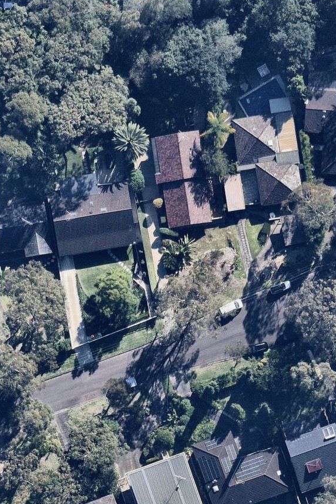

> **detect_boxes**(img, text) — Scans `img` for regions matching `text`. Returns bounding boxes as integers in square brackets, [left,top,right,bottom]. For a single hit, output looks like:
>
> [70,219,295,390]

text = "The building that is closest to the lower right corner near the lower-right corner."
[286,423,336,493]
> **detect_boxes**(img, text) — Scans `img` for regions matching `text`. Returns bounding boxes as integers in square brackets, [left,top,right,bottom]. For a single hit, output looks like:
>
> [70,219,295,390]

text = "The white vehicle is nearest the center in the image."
[217,301,243,315]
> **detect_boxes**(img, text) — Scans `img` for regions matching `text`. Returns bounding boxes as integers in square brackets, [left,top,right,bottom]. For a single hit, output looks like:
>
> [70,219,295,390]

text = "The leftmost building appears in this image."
[0,200,53,262]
